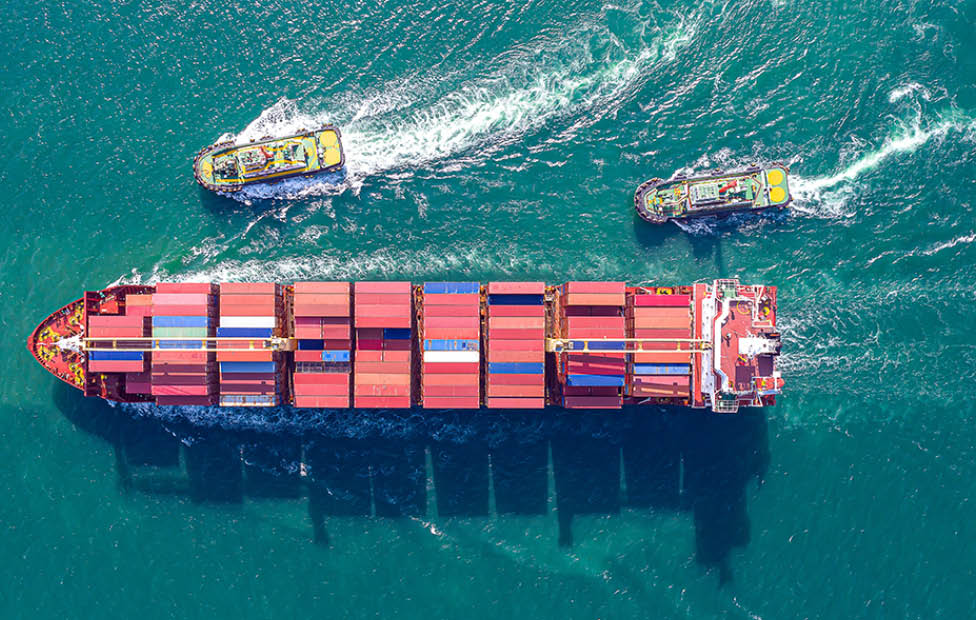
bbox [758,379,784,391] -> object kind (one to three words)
boat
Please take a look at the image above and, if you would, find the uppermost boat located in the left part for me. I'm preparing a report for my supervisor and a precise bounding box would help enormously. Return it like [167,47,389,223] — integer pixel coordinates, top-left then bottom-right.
[192,123,345,188]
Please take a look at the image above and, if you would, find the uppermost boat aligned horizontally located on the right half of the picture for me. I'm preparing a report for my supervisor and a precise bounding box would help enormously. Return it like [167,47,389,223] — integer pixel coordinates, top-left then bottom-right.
[635,159,792,223]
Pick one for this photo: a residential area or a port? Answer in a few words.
port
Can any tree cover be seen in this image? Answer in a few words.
No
